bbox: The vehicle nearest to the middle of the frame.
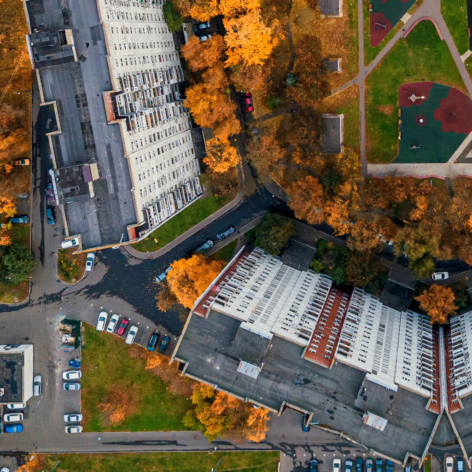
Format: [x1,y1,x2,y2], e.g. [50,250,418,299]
[214,226,237,241]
